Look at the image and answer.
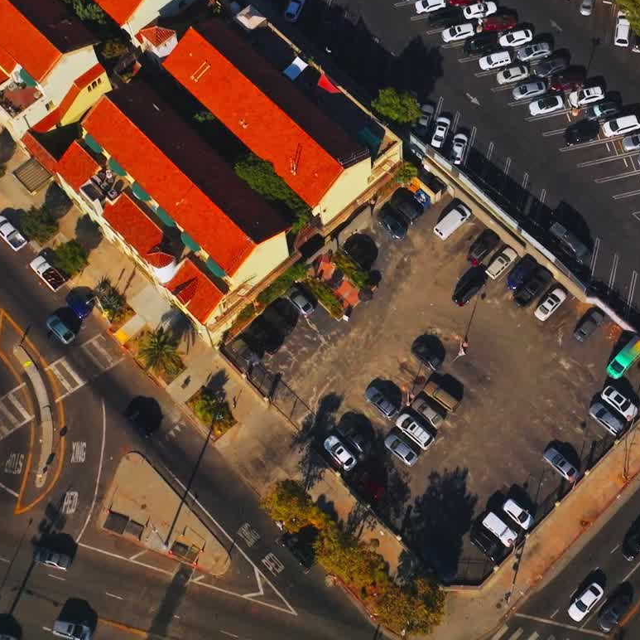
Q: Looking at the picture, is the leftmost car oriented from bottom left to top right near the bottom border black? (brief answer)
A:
No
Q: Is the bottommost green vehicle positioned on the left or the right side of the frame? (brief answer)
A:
right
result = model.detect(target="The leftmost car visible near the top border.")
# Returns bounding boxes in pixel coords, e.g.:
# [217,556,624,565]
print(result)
[285,0,306,26]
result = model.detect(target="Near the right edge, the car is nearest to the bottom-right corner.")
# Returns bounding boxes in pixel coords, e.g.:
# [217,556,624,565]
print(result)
[597,588,634,629]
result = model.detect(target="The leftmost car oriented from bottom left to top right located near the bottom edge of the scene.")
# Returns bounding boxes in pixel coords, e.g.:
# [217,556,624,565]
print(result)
[568,582,605,622]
